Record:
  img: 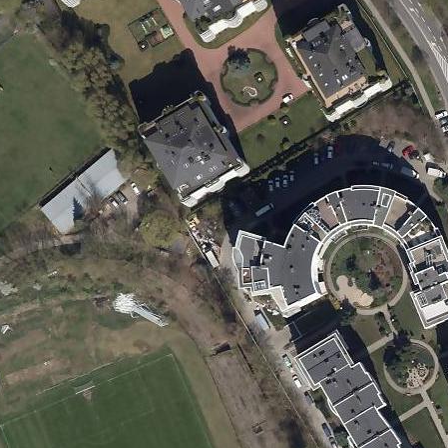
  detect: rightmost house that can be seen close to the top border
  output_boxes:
[287,4,378,119]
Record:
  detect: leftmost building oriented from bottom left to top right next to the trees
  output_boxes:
[36,145,127,235]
